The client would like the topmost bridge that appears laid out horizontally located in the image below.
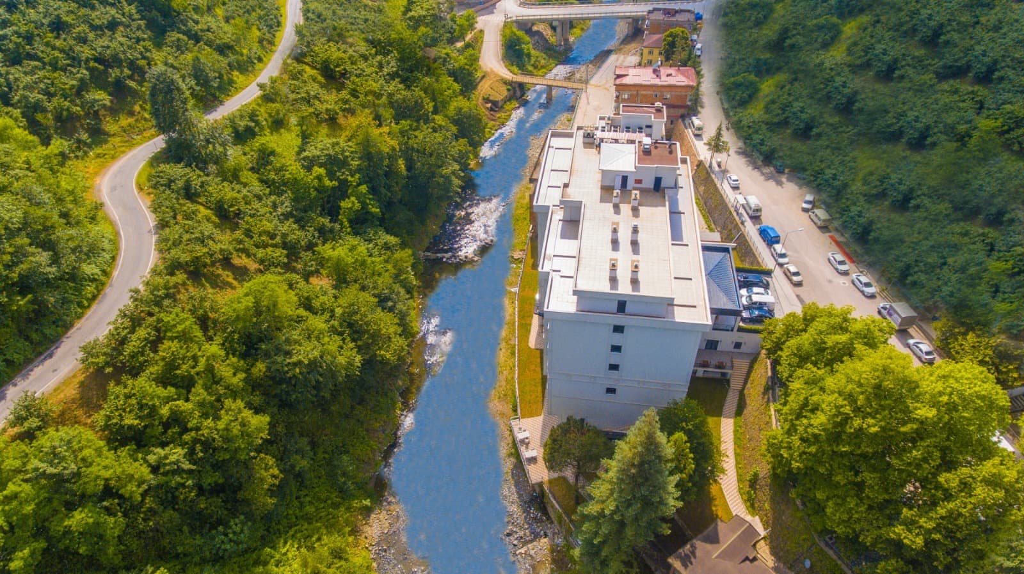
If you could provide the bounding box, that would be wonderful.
[505,0,704,41]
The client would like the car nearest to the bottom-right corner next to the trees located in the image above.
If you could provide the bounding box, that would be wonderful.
[903,338,938,365]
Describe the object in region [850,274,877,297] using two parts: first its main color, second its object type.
white car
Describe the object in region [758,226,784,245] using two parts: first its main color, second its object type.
blue vehicle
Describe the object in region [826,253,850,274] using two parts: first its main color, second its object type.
white car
